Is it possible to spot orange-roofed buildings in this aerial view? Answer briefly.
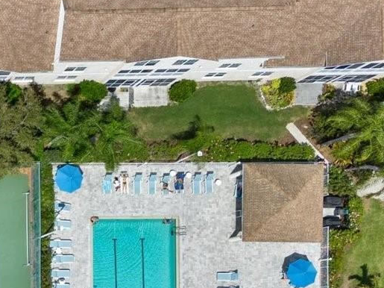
No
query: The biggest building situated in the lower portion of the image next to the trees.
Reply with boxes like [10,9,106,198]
[226,162,323,244]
